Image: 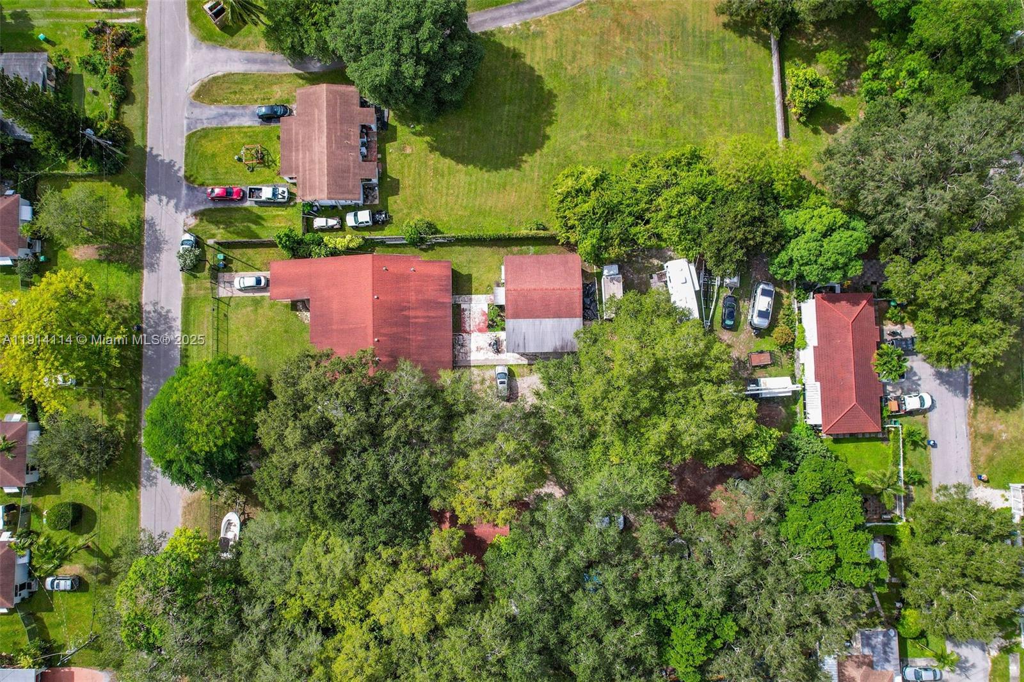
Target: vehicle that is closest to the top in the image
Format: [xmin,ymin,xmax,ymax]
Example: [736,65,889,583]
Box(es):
[256,103,291,120]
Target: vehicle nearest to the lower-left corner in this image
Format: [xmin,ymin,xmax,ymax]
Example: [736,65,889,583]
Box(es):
[44,574,83,593]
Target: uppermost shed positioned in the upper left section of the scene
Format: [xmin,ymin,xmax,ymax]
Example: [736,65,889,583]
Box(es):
[203,0,234,29]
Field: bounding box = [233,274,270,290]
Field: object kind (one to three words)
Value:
car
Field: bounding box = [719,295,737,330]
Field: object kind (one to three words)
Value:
car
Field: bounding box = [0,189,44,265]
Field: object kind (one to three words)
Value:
house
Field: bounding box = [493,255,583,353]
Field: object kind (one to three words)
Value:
building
